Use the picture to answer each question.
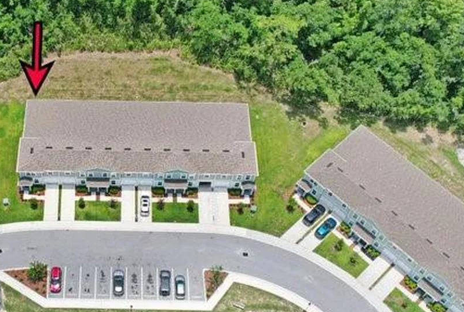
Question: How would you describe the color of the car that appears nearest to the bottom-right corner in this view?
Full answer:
The car that appears nearest to the bottom-right corner looks blue in the image.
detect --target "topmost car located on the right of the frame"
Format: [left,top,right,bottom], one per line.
[302,202,325,225]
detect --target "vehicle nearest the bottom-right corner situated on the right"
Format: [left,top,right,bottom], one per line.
[315,216,336,240]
